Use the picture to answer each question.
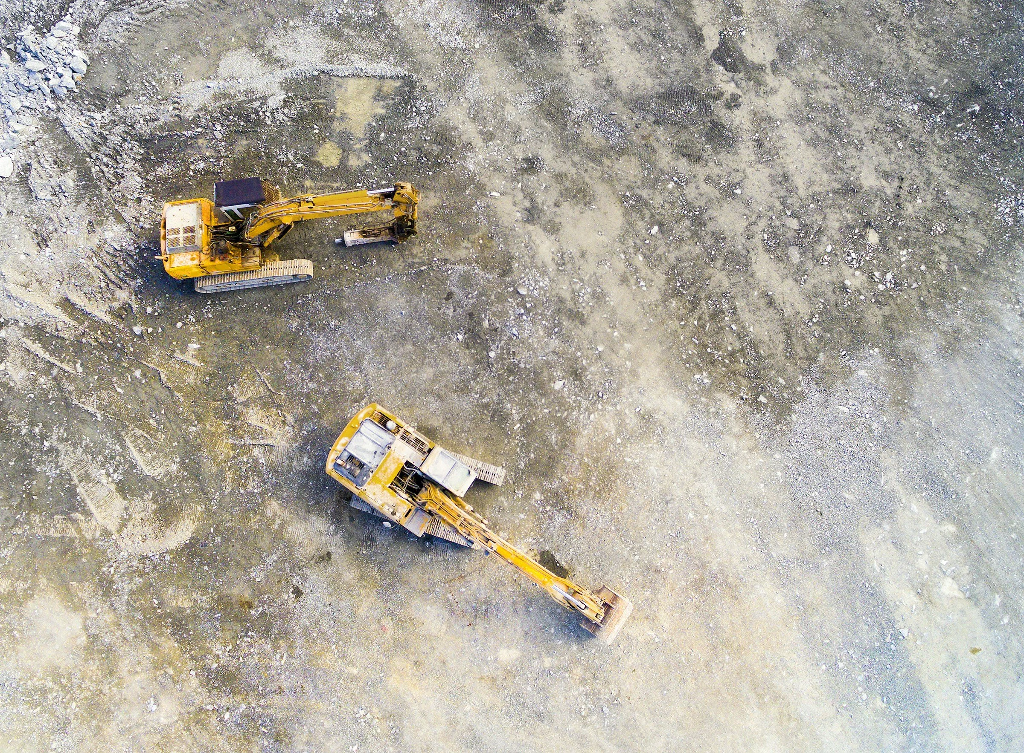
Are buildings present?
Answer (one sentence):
No, I can see no building in this picture.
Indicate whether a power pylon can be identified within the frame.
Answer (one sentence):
No, no power pylon is visible in the view.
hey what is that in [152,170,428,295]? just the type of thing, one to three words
work vehicle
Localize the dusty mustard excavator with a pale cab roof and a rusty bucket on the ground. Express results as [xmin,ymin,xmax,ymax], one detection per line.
[327,405,634,644]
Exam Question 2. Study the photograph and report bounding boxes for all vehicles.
[327,405,634,644]
[152,170,428,295]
